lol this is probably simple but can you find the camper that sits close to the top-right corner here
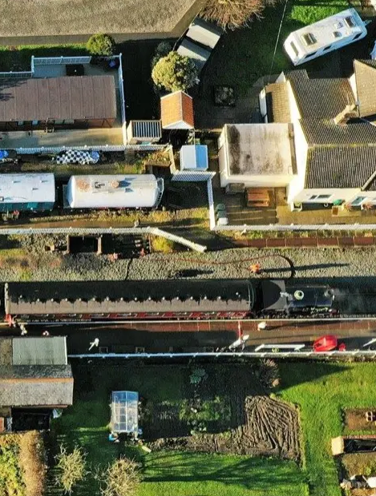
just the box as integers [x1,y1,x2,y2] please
[280,13,357,68]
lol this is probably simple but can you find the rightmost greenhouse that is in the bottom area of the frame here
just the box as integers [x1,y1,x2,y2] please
[108,392,139,433]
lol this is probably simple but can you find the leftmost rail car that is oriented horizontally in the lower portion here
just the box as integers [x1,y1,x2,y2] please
[2,279,257,321]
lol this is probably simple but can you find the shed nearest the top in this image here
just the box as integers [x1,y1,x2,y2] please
[187,19,222,53]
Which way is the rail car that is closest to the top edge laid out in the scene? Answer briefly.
from left to right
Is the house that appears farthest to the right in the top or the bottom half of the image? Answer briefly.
top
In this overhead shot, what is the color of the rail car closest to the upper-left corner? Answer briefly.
white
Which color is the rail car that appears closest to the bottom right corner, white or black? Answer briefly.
black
